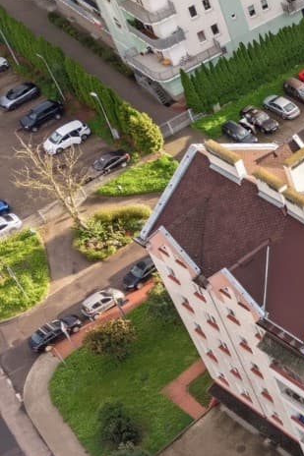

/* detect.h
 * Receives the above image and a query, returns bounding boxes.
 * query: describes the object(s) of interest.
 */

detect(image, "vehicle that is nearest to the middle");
[114,257,158,289]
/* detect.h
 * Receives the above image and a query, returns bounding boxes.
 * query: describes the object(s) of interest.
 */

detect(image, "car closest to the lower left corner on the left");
[25,317,89,355]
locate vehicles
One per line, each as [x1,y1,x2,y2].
[280,76,304,106]
[44,117,93,153]
[25,317,89,355]
[0,211,29,236]
[0,51,12,69]
[0,77,45,111]
[236,104,279,135]
[259,92,302,122]
[114,257,158,289]
[216,115,257,144]
[17,96,67,131]
[85,144,137,180]
[75,287,129,319]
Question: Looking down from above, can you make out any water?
No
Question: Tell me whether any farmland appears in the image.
No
